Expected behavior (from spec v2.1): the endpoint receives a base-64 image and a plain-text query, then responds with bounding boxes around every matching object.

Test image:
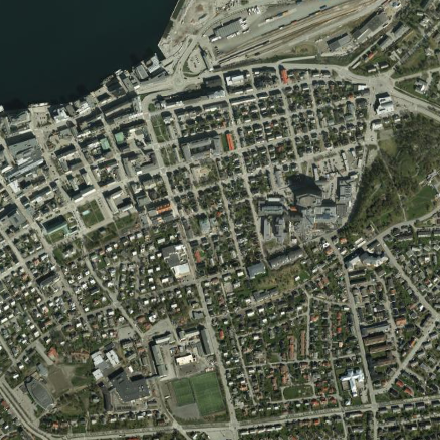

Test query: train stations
[208,0,385,70]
